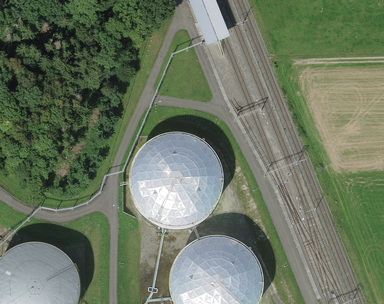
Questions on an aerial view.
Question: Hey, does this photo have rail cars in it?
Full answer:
No, no rail car is visible in the scene.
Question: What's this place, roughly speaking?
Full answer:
This looks like an industrial area.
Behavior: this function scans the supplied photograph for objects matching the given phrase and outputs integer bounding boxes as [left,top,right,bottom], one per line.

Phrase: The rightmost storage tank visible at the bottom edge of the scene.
[169,235,266,304]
